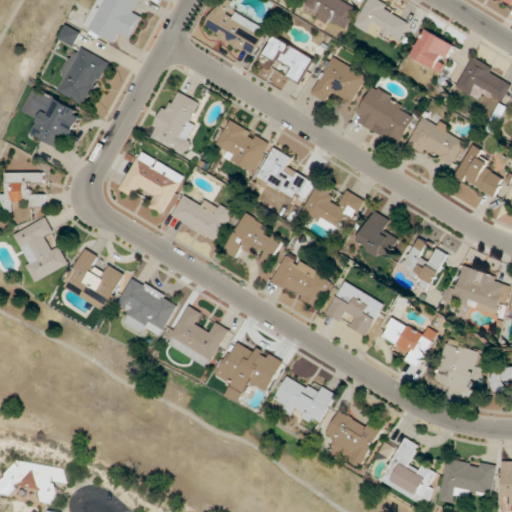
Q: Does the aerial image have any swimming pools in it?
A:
Yes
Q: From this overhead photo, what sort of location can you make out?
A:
residential area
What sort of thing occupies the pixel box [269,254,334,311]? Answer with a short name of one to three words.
house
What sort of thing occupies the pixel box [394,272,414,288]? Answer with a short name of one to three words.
swimming pool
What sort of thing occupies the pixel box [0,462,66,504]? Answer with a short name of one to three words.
house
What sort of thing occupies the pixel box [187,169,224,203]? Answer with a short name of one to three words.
swimming pool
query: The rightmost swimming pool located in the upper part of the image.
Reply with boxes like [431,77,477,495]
[450,120,472,138]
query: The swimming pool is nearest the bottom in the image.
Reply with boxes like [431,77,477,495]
[372,459,386,480]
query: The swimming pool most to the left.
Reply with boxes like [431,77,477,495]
[0,242,20,271]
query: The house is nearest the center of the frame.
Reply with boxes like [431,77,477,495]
[226,214,284,257]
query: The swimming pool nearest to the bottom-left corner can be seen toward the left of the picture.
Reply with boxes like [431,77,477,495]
[64,290,96,318]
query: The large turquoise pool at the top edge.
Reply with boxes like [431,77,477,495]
[231,0,271,24]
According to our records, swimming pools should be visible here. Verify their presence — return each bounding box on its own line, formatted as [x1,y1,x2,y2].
[288,26,318,55]
[0,242,20,271]
[309,223,329,238]
[239,386,268,414]
[398,306,429,328]
[467,309,500,330]
[187,169,224,203]
[372,459,386,480]
[500,316,512,345]
[64,290,96,318]
[394,272,414,288]
[384,80,408,98]
[450,120,472,138]
[231,0,271,24]
[204,102,224,126]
